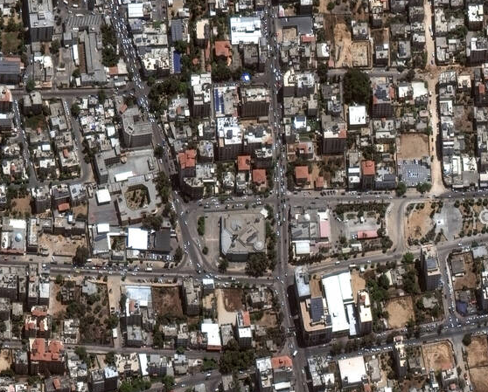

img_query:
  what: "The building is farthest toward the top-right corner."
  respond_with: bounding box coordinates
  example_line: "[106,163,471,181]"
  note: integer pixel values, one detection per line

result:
[467,4,482,29]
